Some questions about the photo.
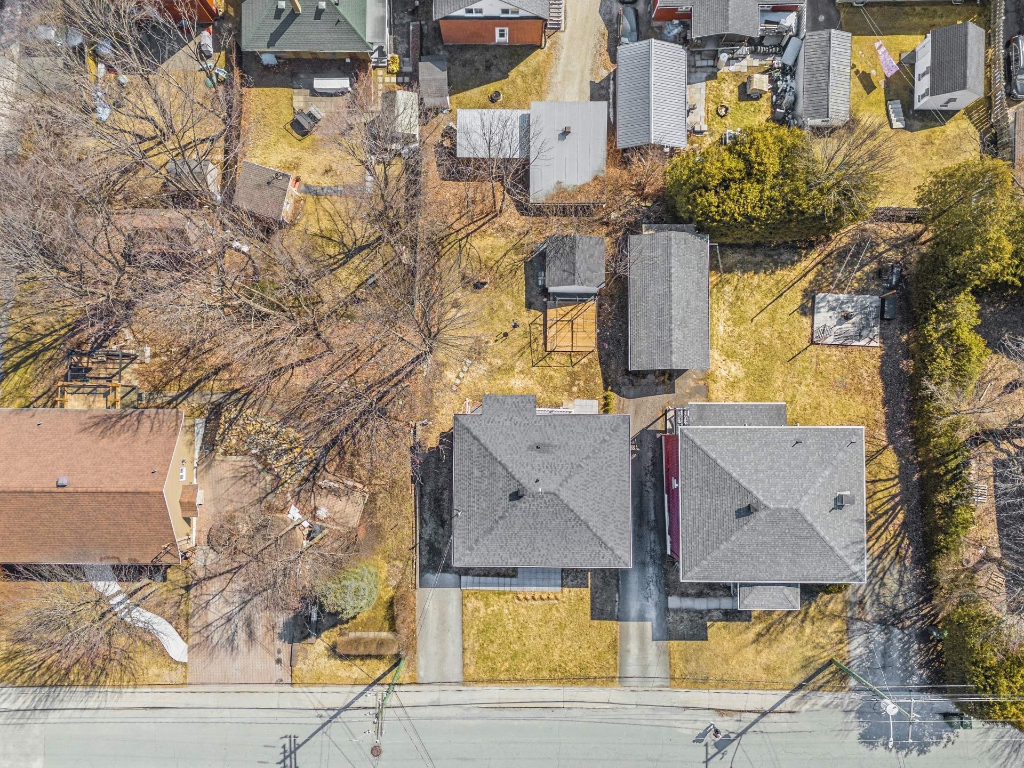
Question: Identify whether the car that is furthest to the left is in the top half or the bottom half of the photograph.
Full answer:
It is in the top half that the car that is furthest to the left appears.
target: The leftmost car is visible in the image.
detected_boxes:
[612,0,639,58]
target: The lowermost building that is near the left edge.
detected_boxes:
[0,409,204,564]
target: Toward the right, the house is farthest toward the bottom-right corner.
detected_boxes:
[660,403,868,611]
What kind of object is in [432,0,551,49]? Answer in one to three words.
house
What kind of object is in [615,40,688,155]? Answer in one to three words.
building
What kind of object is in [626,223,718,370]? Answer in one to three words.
building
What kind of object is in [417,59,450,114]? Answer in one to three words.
shed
